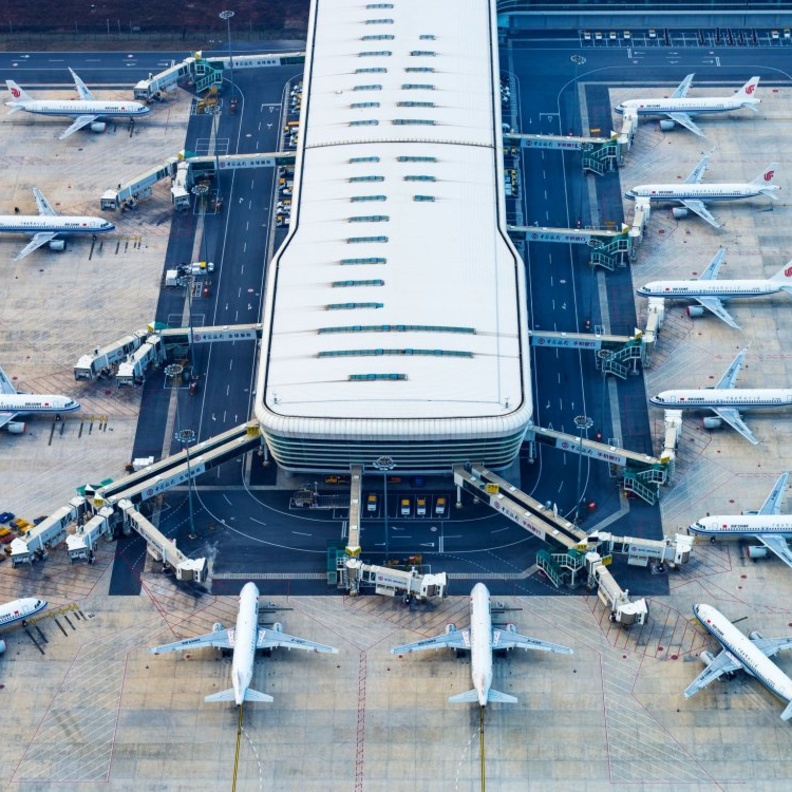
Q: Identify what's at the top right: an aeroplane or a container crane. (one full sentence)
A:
There is an aeroplane at the top right.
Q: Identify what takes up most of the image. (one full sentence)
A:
The largest share of the image is taken up by paved ground.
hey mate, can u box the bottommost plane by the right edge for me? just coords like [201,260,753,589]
[688,607,792,714]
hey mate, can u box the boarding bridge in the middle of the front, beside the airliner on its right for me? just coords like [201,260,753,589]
[344,550,443,610]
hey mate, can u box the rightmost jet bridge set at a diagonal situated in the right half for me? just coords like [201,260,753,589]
[568,547,644,630]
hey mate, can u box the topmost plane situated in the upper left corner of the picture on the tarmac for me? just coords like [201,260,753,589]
[4,76,150,142]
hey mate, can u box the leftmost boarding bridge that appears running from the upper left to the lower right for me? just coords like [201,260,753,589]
[108,500,203,583]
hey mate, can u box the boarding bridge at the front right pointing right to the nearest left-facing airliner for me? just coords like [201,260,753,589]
[582,531,694,578]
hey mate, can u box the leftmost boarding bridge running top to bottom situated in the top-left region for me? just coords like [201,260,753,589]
[171,162,193,211]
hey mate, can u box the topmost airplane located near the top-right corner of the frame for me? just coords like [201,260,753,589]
[616,72,762,137]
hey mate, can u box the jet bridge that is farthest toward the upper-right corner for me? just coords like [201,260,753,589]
[611,101,638,169]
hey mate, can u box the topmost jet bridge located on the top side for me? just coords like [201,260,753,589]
[137,56,196,103]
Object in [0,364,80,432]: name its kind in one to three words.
airplane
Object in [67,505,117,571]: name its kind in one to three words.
jet bridge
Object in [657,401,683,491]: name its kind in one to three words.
jet bridge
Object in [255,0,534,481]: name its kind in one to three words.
building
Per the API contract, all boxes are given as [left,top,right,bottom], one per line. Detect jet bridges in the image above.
[657,401,683,491]
[9,495,103,574]
[115,336,163,394]
[101,159,183,215]
[67,505,117,571]
[137,56,196,103]
[639,292,666,370]
[108,500,203,583]
[75,329,155,385]
[171,162,193,211]
[582,531,694,578]
[625,193,650,264]
[344,550,443,610]
[568,547,644,630]
[611,101,638,169]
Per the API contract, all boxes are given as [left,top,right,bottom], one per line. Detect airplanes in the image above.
[689,474,792,572]
[0,186,115,262]
[688,607,792,714]
[391,586,572,704]
[153,586,334,704]
[638,241,792,329]
[626,147,781,225]
[4,76,150,142]
[616,72,762,137]
[0,364,80,432]
[650,345,792,443]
